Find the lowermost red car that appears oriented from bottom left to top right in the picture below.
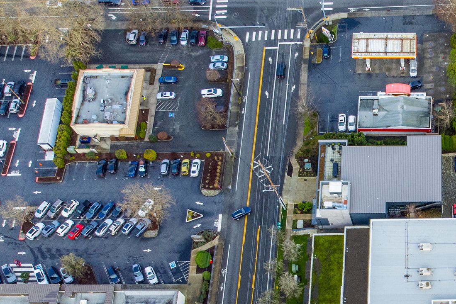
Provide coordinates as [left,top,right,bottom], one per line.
[67,222,85,241]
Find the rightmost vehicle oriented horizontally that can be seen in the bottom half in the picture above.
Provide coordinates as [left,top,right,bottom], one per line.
[231,208,252,220]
